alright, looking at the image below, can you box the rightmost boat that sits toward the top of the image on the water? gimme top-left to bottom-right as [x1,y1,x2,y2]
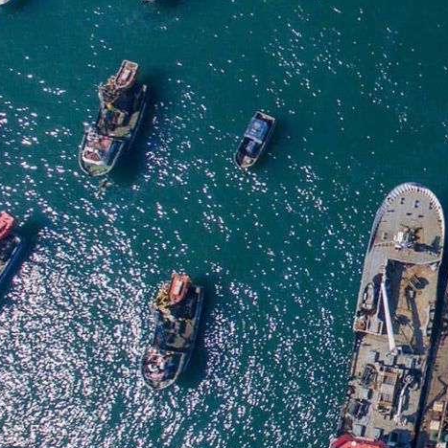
[237,111,276,170]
